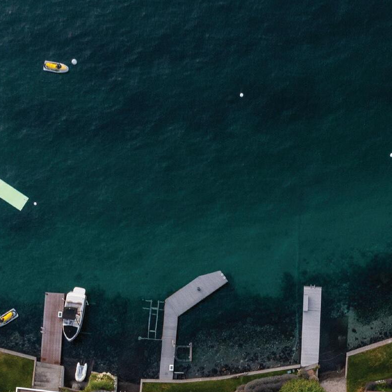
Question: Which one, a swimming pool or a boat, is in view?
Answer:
boat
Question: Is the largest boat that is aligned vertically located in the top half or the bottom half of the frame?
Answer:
bottom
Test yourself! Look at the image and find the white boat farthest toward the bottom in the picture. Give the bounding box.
[75,361,88,383]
